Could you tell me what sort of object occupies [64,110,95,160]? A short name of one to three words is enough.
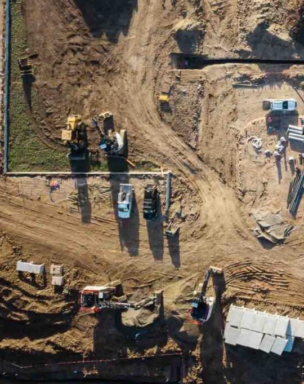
work vehicle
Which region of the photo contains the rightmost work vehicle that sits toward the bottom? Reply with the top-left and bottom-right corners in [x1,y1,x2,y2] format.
[188,263,224,323]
